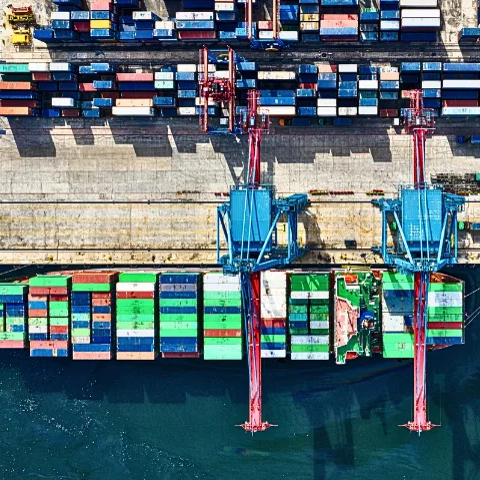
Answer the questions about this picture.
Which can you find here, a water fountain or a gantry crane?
gantry crane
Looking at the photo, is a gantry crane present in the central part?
Yes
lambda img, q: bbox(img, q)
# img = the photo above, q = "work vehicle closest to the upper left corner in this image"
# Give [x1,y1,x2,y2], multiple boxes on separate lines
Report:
[0,2,27,28]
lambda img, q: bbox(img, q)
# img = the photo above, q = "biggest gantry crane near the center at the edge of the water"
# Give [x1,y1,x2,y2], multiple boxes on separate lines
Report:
[216,89,316,434]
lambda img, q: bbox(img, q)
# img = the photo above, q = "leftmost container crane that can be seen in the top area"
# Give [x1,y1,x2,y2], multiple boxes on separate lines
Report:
[201,48,252,135]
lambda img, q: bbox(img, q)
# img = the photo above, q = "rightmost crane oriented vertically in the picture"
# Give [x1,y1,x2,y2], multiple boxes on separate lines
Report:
[367,89,467,434]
